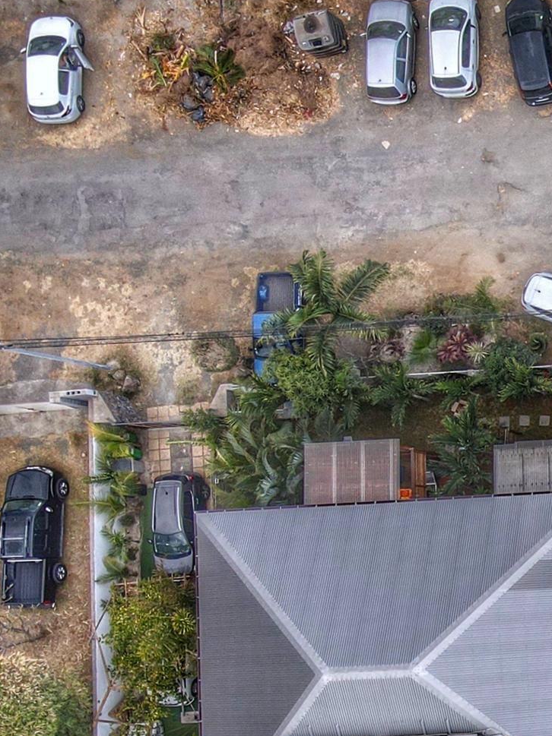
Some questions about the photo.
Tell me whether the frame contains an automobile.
Yes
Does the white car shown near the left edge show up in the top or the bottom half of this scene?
top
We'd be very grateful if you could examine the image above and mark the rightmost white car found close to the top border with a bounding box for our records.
[423,0,482,101]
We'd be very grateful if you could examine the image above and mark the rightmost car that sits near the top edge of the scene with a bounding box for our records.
[501,0,552,107]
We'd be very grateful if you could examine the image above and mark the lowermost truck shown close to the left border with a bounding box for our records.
[0,468,71,604]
